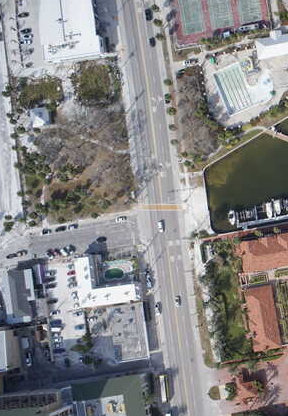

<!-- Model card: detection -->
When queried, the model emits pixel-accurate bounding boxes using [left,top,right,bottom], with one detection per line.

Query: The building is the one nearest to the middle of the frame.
[74,256,146,309]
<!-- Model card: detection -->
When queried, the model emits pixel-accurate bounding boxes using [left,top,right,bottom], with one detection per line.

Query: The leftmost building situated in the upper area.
[30,107,53,128]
